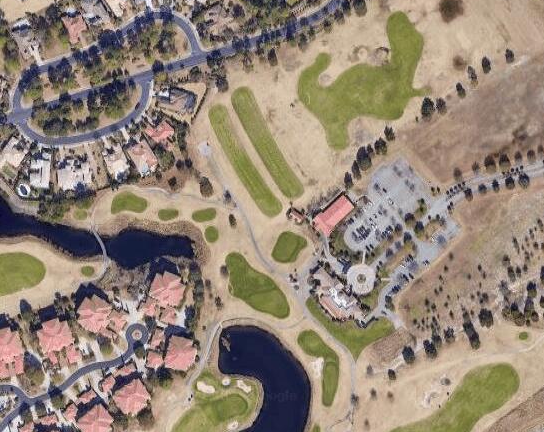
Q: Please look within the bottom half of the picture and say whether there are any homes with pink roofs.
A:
Yes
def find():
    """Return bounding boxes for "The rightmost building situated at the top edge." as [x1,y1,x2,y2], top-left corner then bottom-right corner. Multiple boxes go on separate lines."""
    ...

[204,0,231,34]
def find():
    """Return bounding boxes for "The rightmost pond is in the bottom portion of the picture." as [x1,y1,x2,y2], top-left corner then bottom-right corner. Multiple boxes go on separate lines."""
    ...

[218,325,310,432]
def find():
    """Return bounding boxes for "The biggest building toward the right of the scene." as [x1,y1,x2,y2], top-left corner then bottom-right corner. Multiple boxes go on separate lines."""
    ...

[307,268,360,324]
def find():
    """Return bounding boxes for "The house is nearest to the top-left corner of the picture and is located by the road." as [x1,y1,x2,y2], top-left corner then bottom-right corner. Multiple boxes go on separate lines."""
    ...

[10,23,40,66]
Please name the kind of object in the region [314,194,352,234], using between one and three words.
building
